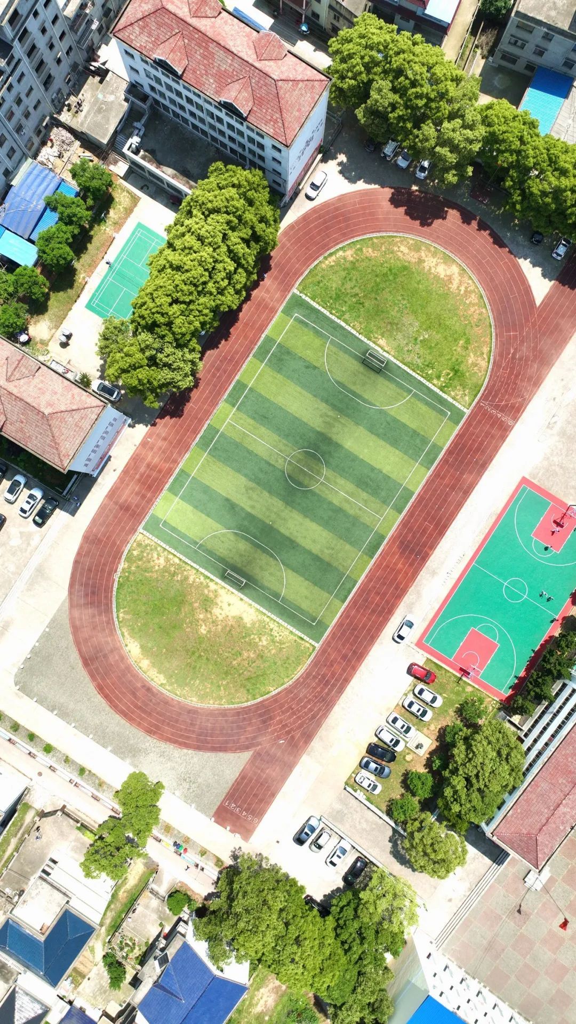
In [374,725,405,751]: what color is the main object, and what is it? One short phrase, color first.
white car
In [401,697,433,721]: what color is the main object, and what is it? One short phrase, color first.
white car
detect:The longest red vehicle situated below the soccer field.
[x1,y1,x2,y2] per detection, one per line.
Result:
[405,661,437,685]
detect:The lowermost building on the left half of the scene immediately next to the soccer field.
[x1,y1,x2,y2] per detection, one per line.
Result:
[0,336,130,476]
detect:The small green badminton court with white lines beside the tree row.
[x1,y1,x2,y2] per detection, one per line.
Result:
[86,224,165,328]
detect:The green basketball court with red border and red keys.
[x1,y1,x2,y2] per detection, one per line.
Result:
[415,476,576,704]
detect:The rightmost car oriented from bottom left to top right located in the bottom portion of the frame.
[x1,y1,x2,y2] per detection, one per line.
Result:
[391,613,416,645]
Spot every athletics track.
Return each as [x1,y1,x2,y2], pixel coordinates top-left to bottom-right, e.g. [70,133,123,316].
[68,186,576,842]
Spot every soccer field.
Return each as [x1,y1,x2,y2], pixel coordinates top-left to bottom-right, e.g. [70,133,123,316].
[141,292,470,646]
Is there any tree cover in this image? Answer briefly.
Yes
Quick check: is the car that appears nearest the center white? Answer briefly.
Yes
